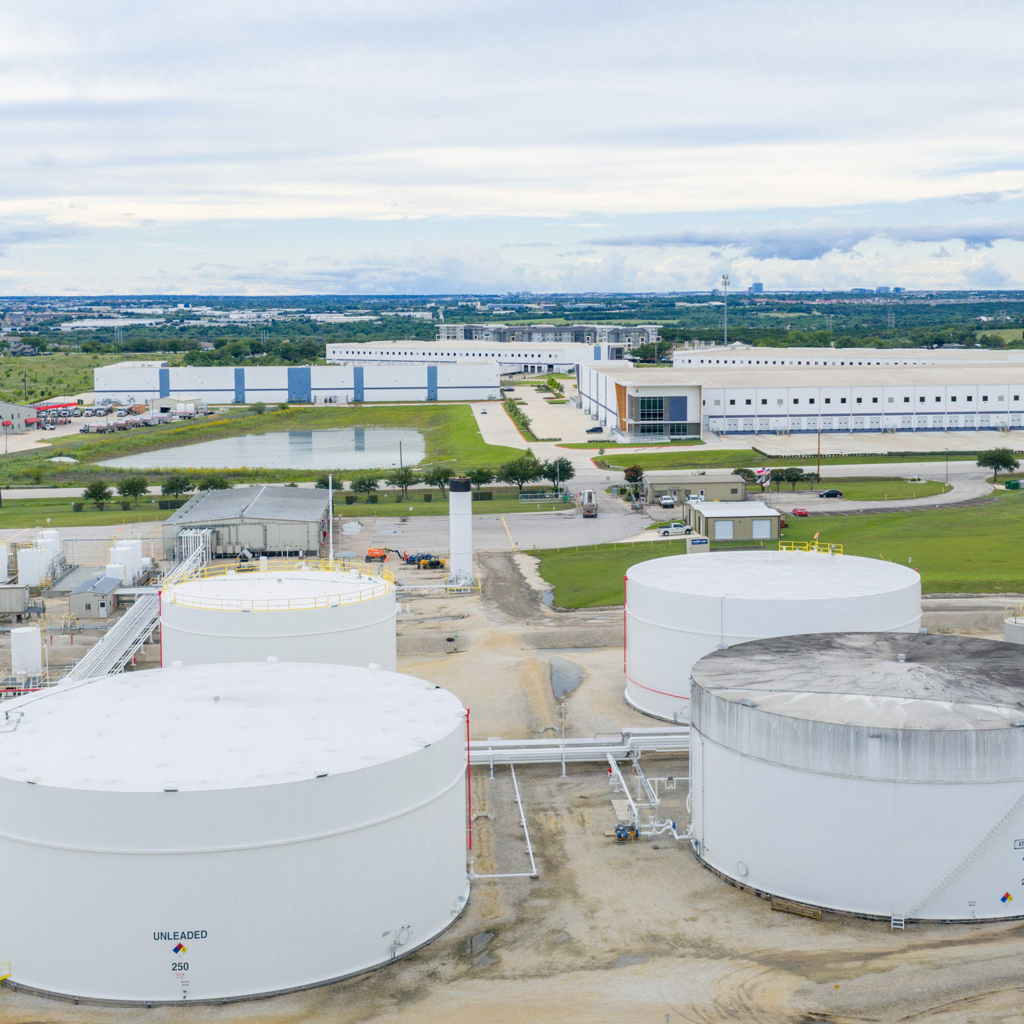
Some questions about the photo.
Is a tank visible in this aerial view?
Yes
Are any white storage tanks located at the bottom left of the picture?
Yes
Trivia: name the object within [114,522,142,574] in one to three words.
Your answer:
storage tank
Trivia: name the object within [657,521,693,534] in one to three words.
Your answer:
vehicle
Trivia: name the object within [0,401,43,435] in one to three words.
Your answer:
building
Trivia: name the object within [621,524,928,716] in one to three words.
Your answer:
storage tank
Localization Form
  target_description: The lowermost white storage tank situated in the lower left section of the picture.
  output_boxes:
[0,657,474,1009]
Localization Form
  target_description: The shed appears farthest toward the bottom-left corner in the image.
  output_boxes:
[67,571,124,618]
